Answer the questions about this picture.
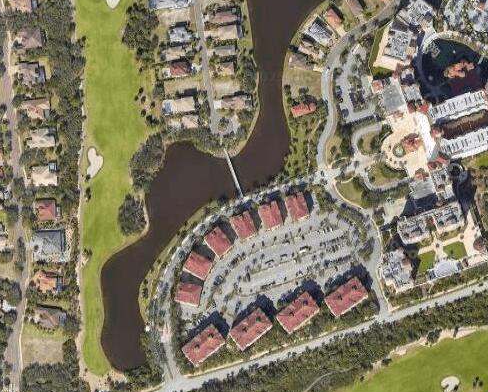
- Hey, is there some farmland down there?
No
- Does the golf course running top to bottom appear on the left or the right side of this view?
left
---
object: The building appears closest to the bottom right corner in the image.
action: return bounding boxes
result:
[431,259,461,281]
